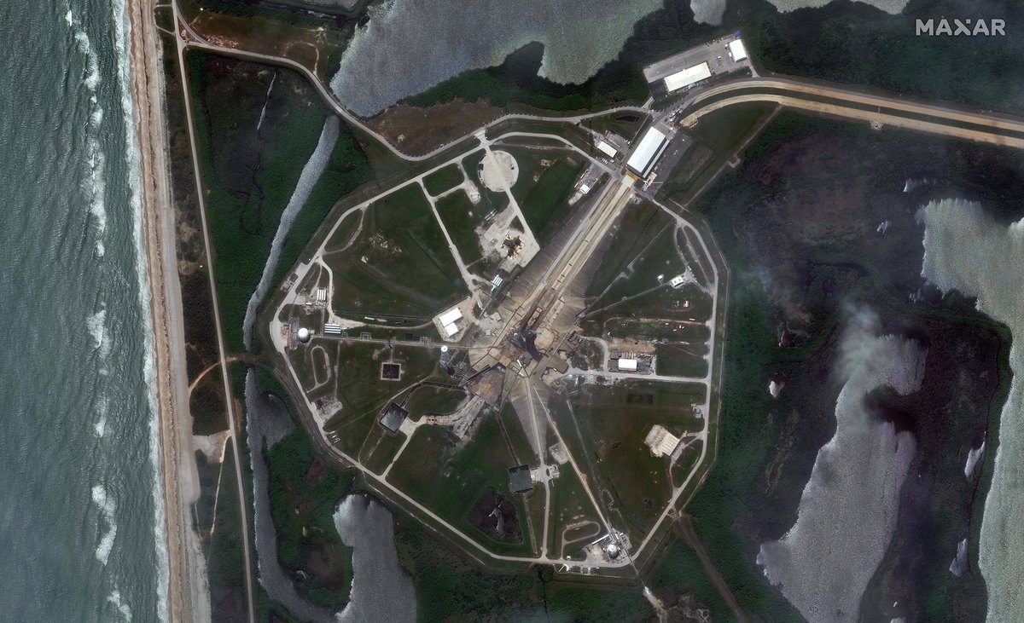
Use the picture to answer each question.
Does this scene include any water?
Yes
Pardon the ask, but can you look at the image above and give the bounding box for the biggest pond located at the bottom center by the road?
[468,485,523,544]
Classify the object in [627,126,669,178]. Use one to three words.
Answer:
hangar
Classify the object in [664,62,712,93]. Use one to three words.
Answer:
shed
